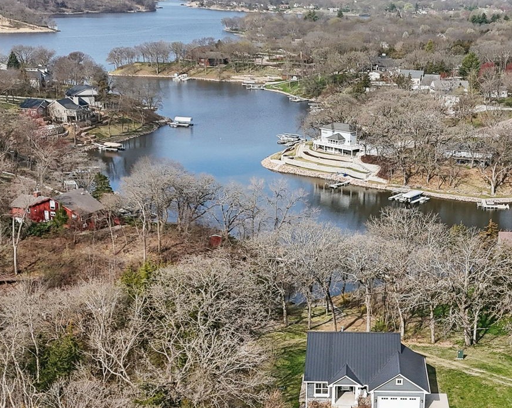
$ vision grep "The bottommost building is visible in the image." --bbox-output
[301,322,430,408]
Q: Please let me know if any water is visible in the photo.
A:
Yes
